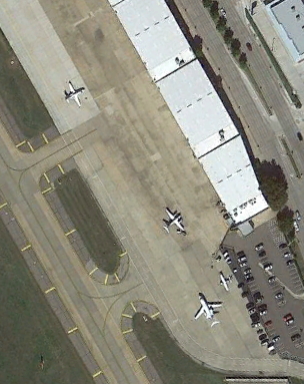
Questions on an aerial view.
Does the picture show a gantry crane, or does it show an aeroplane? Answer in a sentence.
There is an aeroplane in the scene.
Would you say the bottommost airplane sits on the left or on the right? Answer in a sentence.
It is on the right.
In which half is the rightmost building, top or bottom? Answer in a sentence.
Seen from above, the rightmost building lies in the top half of the view.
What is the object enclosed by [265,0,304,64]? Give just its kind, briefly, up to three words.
building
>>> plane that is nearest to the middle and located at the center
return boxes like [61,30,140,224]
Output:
[161,209,185,234]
